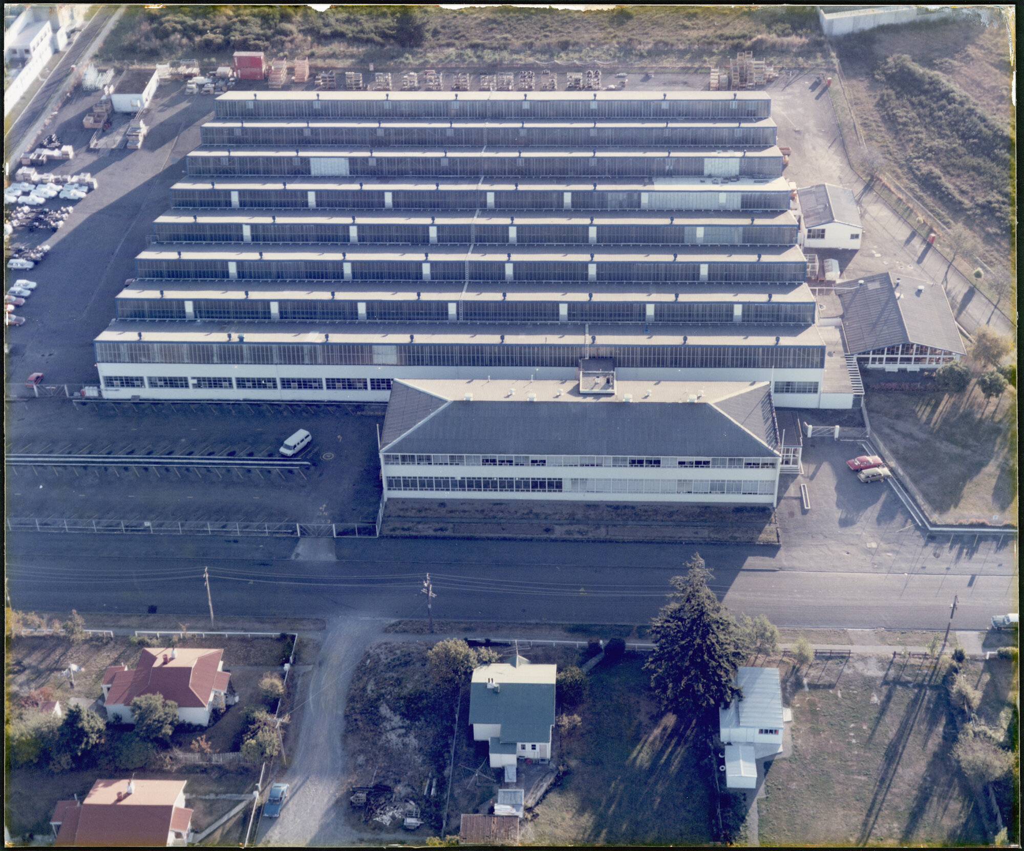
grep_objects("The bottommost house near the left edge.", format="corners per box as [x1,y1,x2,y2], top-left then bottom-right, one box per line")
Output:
[43,779,197,851]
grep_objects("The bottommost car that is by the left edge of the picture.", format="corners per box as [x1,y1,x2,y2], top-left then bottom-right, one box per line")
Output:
[22,371,48,389]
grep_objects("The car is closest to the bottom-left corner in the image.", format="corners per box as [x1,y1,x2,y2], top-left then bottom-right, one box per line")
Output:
[263,783,289,825]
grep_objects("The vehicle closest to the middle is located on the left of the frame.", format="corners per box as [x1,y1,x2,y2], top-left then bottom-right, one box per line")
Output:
[279,429,313,460]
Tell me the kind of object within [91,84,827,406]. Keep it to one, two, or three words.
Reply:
building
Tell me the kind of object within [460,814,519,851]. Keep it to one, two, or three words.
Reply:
shed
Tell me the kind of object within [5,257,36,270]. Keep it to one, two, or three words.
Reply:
vehicle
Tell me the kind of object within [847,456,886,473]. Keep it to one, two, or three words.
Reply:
car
